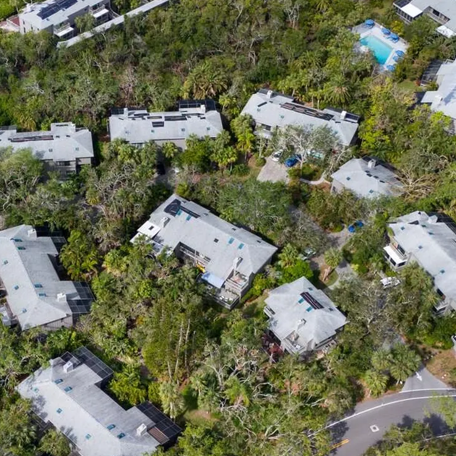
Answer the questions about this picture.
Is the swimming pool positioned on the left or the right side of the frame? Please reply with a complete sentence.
It is on the right.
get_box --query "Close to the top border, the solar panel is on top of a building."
[36,0,77,20]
